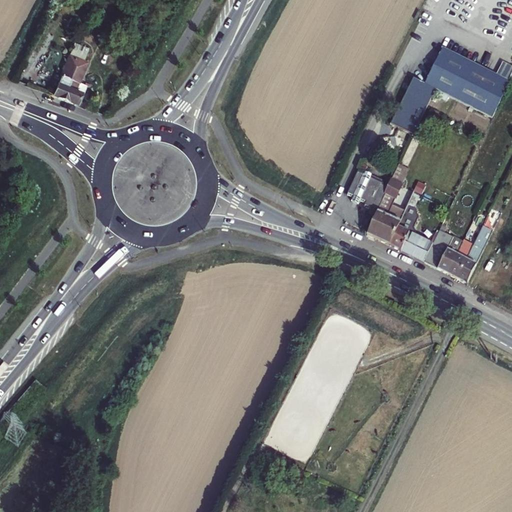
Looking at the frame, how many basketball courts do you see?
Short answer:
0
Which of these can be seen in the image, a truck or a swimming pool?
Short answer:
truck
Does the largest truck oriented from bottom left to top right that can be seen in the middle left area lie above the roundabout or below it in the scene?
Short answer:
below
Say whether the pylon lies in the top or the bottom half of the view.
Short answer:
bottom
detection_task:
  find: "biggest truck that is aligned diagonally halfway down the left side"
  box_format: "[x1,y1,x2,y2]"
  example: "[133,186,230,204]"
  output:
[92,246,128,279]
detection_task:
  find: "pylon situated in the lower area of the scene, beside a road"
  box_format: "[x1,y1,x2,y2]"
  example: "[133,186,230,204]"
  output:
[0,414,28,446]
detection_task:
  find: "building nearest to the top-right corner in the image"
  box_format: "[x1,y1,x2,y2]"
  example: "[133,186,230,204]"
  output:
[424,46,510,118]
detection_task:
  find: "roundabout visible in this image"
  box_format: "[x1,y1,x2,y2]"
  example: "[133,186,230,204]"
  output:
[90,119,220,249]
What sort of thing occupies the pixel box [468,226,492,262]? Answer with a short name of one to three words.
shed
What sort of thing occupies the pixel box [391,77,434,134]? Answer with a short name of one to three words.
building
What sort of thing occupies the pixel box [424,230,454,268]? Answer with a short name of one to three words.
house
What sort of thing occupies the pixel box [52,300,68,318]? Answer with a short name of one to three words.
vehicle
